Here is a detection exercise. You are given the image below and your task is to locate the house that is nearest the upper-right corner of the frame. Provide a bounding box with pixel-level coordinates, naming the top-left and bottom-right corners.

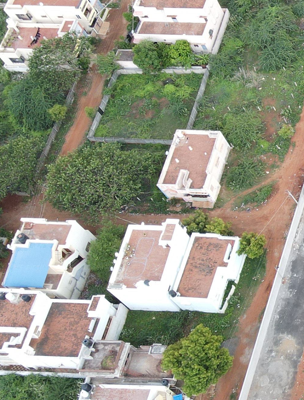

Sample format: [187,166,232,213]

[135,0,227,53]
